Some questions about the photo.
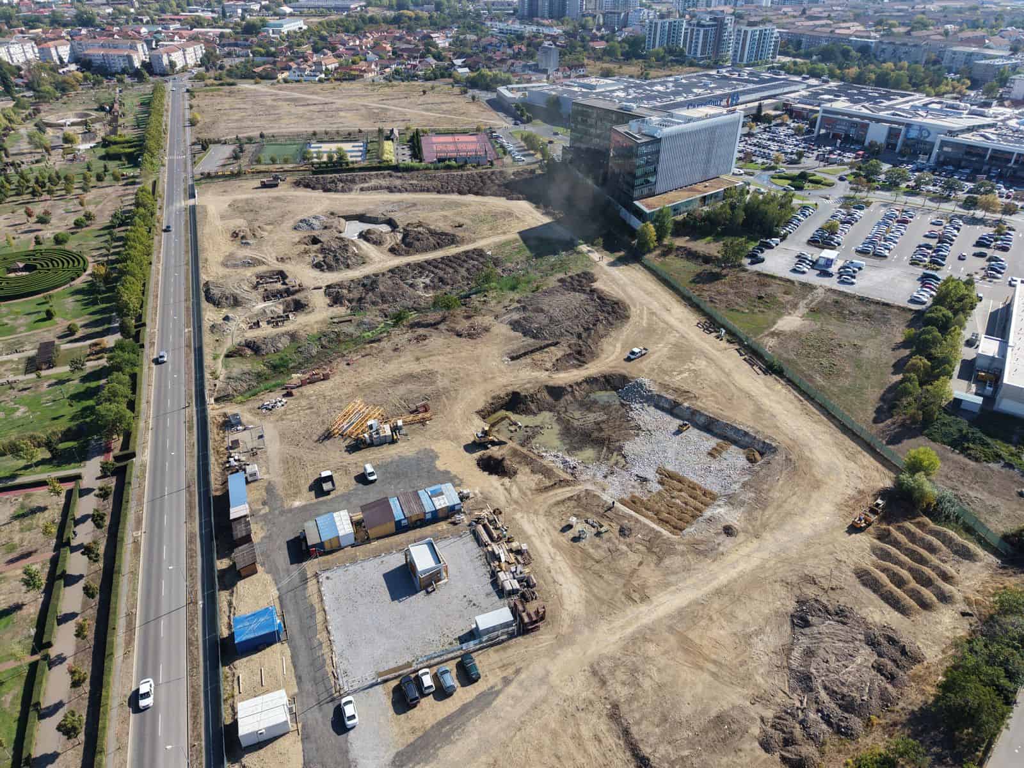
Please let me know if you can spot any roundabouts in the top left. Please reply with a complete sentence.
No, no roundabout can be made out in the top left.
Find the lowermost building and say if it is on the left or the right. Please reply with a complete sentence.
The lowermost building appears in the left half of the scene.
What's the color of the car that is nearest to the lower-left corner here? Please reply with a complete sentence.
The car that is nearest to the lower-left corner looks white in the image.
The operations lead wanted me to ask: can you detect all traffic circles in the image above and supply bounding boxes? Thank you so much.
[760,166,844,199]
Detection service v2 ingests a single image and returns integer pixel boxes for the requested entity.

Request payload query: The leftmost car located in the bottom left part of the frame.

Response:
[134,676,154,709]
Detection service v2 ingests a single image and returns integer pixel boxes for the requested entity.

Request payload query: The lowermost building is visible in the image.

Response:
[237,688,294,746]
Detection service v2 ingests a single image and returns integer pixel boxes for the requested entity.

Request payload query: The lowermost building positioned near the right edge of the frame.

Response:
[950,277,1024,434]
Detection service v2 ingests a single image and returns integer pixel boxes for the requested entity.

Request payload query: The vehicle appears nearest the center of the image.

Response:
[476,409,525,452]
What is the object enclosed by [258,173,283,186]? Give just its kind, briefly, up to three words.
vehicle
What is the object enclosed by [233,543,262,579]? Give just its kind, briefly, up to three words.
shed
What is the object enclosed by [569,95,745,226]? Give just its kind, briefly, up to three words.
building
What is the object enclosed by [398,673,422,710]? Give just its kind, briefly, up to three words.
car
